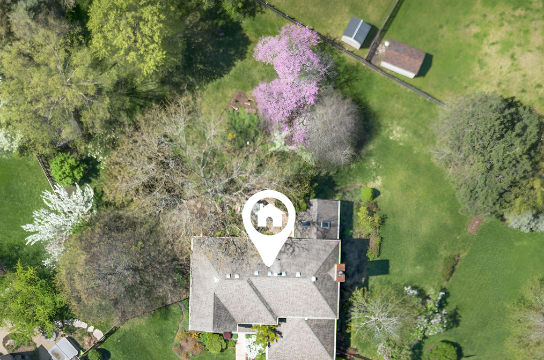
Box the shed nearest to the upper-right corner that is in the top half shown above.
[378,39,425,79]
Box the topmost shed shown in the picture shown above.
[342,16,371,49]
